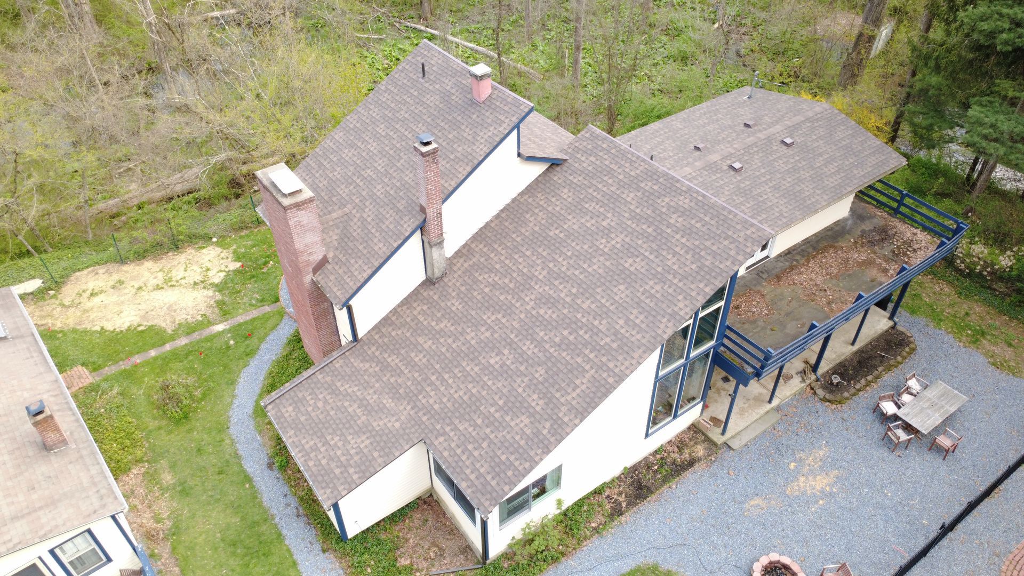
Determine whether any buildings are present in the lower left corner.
Yes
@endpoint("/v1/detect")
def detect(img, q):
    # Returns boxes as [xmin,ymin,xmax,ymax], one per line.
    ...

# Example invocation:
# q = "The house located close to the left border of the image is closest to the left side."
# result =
[0,280,141,576]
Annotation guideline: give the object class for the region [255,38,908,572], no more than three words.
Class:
house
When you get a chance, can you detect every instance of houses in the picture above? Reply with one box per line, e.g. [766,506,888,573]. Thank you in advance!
[255,38,908,572]
[0,280,141,576]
